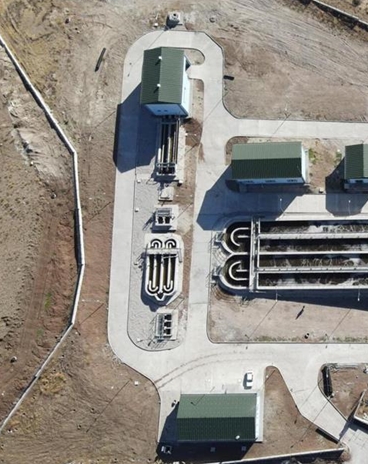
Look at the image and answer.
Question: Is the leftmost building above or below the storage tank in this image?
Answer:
above it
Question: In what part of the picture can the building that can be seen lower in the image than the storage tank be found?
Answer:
bottom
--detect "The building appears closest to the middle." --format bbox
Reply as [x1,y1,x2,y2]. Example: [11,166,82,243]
[228,141,305,185]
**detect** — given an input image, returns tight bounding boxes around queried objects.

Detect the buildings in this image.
[140,44,195,117]
[228,141,305,185]
[173,392,261,444]
[344,141,368,181]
